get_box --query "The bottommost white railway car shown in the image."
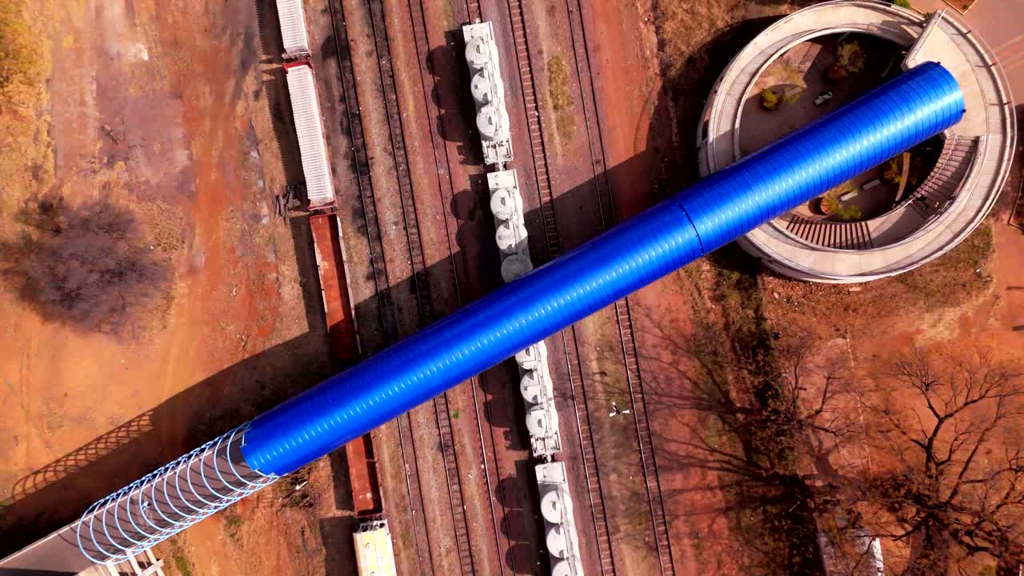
[536,454,584,576]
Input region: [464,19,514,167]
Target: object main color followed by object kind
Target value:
white rail car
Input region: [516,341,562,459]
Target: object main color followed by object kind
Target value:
white rail car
